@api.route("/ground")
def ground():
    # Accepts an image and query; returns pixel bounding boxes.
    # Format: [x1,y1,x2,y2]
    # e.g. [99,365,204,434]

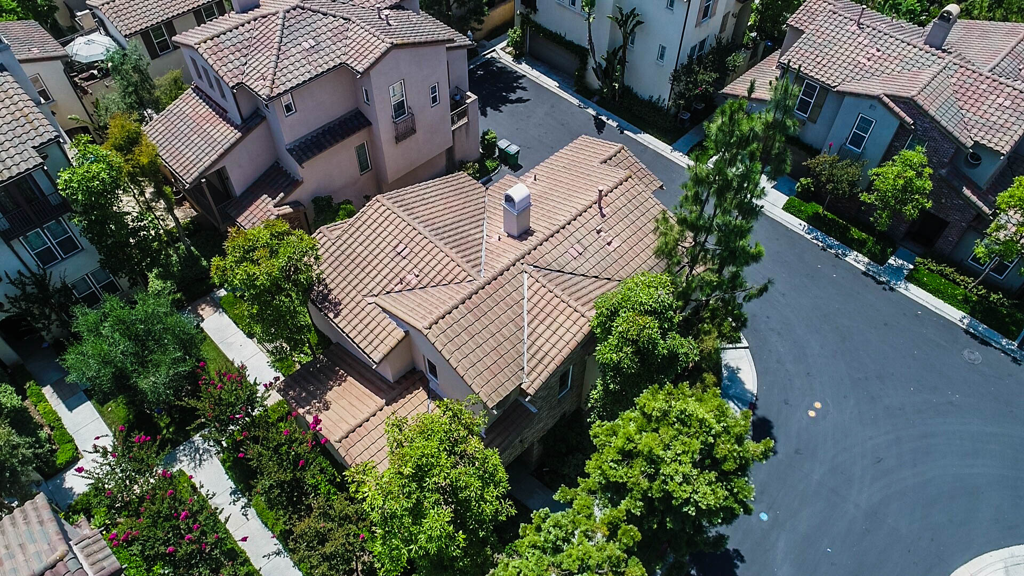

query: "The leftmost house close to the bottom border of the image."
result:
[0,496,149,576]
